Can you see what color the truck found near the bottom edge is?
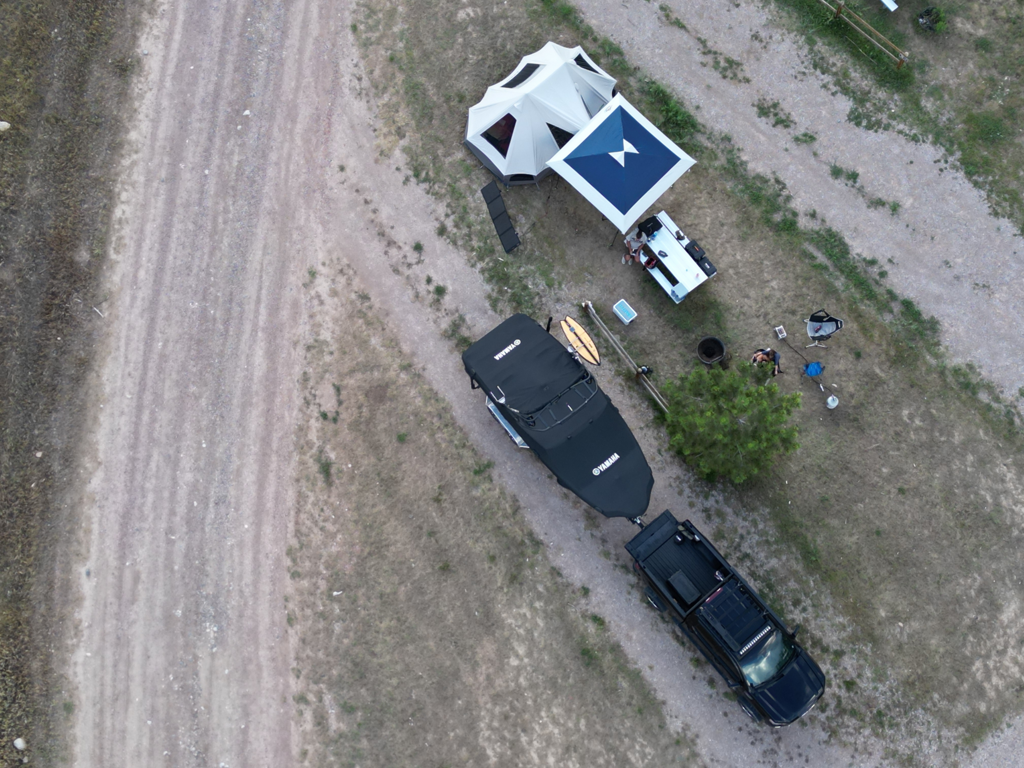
black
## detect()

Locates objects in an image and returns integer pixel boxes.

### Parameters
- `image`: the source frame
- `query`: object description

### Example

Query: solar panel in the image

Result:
[481,181,520,252]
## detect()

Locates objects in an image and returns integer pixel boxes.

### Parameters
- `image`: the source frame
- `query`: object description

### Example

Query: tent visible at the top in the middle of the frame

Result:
[457,42,624,193]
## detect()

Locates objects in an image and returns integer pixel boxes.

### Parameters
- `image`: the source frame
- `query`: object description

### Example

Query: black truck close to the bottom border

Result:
[625,509,827,736]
